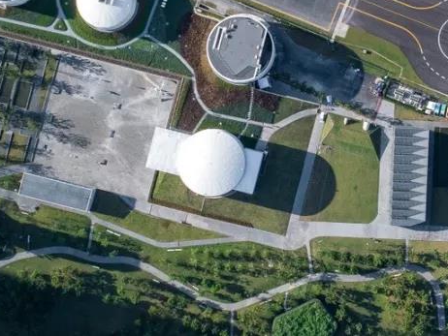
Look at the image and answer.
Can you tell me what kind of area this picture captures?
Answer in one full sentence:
It's an industrial area.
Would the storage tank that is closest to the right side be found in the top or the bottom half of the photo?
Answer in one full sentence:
Seen from above, the storage tank that is closest to the right side lies in the top half of the view.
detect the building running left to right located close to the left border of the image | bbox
[18,169,101,212]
